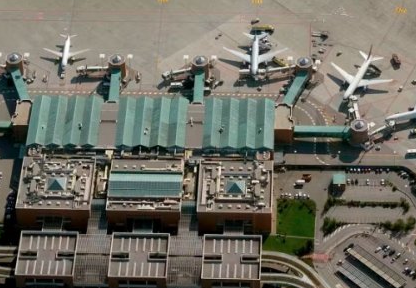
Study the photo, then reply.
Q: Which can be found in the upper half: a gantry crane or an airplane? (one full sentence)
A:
You can see an airplane in the upper half.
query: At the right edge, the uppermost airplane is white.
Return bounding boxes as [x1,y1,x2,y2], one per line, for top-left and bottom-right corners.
[333,46,395,98]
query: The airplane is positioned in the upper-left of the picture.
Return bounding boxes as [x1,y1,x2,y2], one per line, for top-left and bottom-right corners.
[42,31,89,78]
